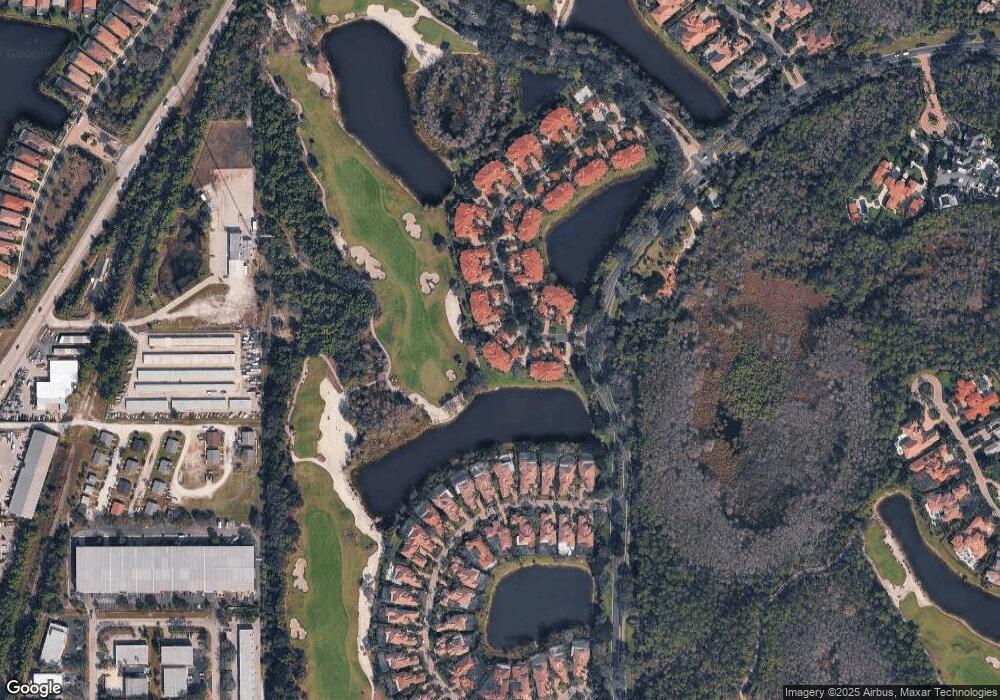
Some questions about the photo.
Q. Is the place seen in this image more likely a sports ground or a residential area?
residential area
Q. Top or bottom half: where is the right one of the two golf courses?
bottom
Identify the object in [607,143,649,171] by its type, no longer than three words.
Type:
house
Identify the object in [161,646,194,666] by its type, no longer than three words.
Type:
building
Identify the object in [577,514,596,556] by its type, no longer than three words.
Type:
house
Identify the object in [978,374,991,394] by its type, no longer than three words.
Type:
swimming pool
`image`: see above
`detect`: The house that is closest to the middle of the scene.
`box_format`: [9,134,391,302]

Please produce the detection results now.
[479,333,524,375]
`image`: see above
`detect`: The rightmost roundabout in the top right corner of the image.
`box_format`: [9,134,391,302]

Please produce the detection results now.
[919,53,946,135]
